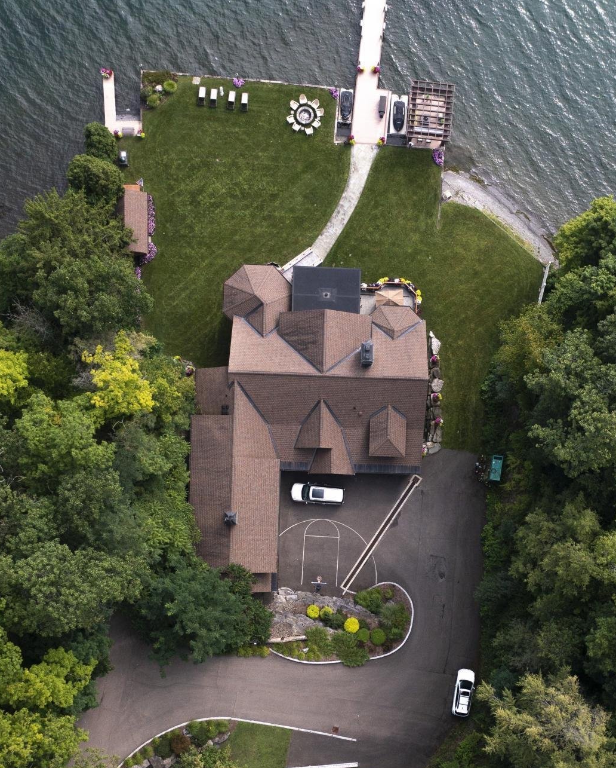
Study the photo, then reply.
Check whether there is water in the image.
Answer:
Yes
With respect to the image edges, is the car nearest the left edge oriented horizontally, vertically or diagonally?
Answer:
horizontally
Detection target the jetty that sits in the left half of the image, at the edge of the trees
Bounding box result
[103,71,141,136]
